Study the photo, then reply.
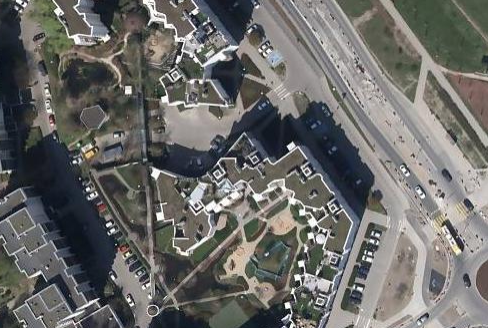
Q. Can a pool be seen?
No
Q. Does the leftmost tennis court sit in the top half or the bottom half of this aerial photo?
bottom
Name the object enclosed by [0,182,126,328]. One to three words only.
building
